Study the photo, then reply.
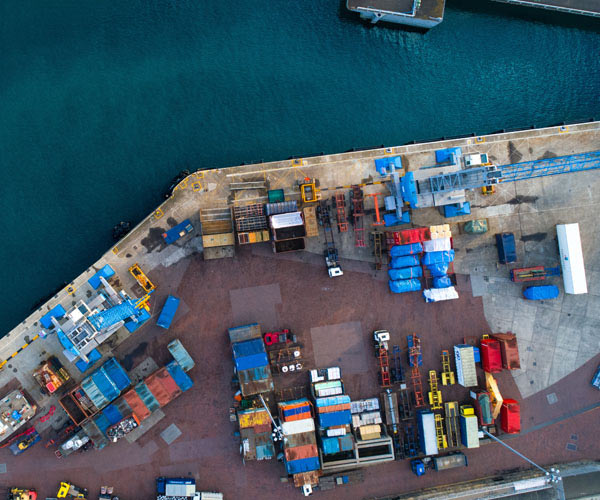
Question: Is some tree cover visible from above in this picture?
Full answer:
No, no tree cover is visible.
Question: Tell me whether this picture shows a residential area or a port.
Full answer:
It's a port.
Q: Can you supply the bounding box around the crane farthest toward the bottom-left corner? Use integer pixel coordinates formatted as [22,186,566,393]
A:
[40,265,164,373]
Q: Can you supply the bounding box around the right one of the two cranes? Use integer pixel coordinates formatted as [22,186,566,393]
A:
[375,147,600,228]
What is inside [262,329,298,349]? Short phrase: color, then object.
red vehicle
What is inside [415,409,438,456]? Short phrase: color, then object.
white trailer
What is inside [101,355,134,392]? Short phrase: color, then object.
blue shipping container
